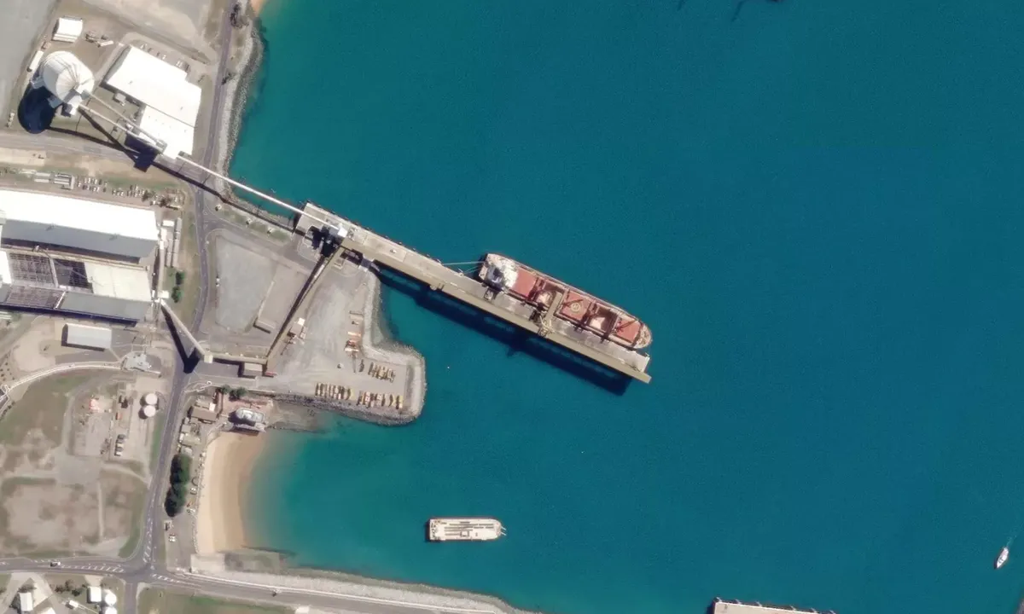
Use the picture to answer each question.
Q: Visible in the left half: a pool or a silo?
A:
silo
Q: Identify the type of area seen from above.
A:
port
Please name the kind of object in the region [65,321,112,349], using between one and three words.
shed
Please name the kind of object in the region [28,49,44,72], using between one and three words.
vehicle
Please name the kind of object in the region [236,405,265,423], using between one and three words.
building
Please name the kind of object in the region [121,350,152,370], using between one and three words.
building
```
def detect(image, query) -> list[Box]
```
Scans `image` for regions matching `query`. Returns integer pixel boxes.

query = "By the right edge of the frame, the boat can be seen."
[997,548,1009,569]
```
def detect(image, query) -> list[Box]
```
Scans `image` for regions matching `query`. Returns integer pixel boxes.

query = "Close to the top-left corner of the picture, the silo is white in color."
[42,51,93,104]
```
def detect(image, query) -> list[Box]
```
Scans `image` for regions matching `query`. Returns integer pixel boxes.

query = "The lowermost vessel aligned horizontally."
[430,518,506,541]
